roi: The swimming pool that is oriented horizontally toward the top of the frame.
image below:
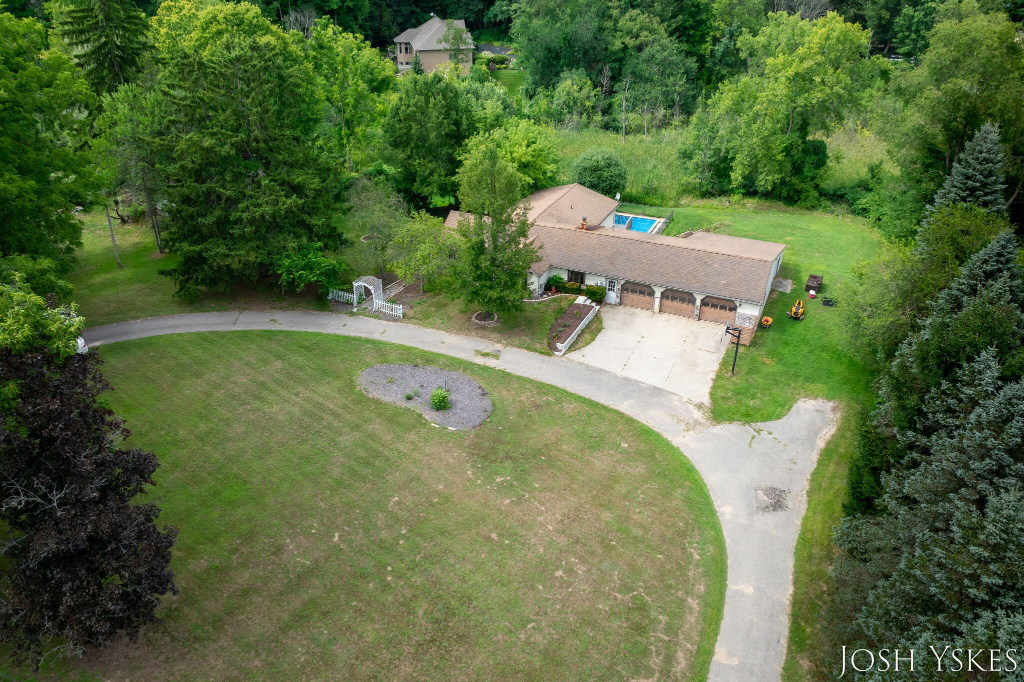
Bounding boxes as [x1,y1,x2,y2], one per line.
[616,210,662,234]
